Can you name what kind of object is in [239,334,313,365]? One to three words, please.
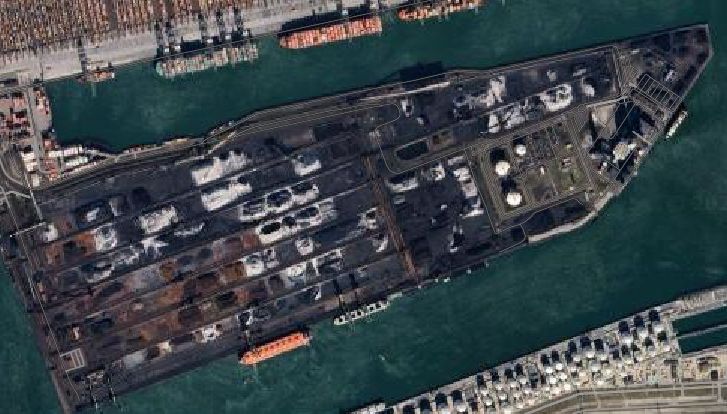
ship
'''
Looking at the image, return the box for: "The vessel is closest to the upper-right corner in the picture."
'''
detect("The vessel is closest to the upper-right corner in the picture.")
[665,111,689,140]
